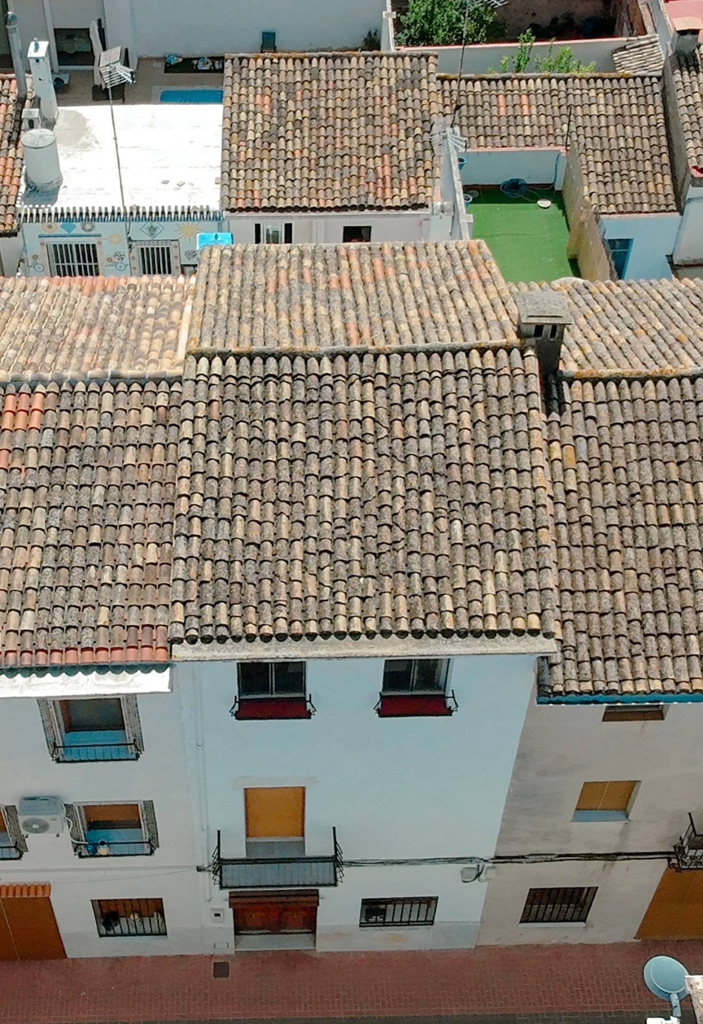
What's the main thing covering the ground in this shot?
buildings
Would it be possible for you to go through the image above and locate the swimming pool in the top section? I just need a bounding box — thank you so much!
[151,84,220,103]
